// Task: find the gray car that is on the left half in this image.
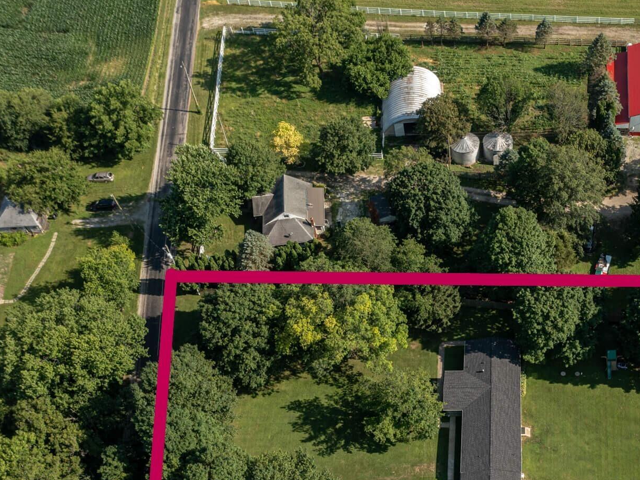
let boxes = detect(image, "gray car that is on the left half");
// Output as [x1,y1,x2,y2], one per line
[85,171,115,183]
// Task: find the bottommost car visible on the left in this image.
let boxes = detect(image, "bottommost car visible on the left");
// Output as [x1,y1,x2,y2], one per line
[87,200,118,213]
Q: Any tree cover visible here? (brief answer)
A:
Yes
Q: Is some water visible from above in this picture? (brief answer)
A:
No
